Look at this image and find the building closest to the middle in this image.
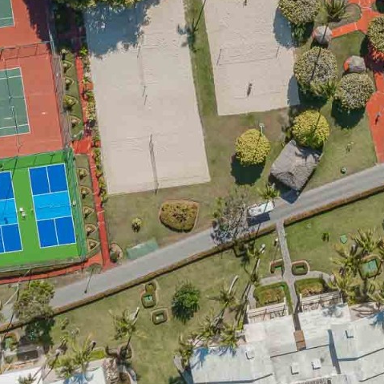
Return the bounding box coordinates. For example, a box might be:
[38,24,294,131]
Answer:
[270,139,323,193]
